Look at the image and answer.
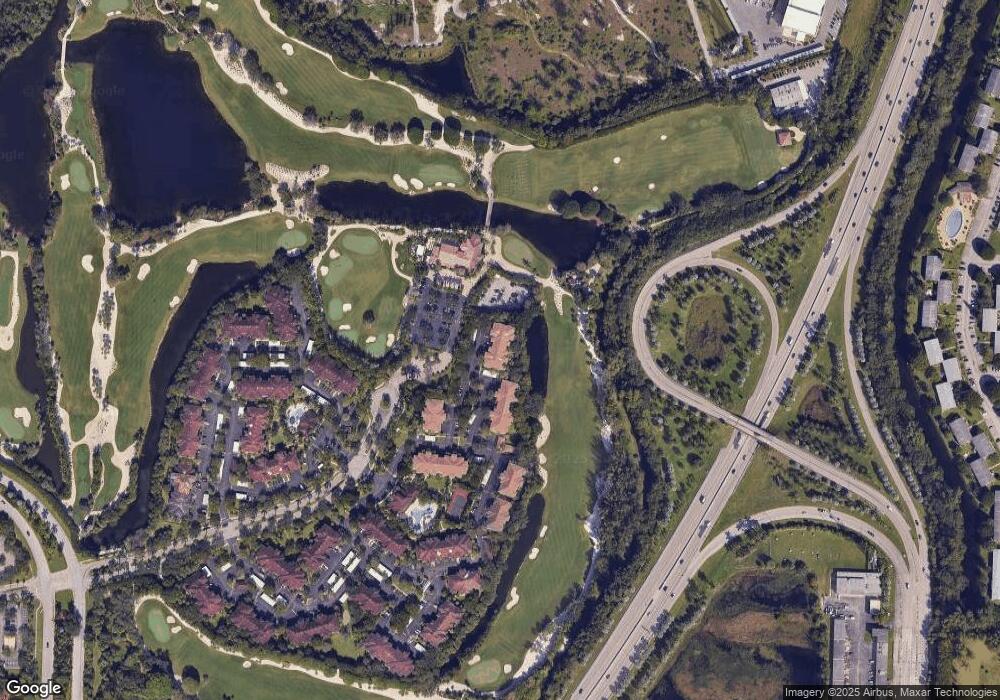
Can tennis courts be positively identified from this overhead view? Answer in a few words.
Yes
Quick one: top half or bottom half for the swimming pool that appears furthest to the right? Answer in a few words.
top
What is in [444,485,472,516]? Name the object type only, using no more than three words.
tennis court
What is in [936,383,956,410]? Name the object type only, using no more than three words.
house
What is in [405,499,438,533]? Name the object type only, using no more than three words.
swimming pool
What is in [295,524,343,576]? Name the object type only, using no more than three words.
building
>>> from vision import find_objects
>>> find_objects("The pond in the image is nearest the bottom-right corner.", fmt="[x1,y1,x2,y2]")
[779,647,823,699]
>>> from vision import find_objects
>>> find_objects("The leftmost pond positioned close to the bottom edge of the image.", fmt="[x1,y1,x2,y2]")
[440,493,545,675]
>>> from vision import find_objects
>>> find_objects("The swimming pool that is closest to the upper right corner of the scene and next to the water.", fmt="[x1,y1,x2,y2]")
[938,194,979,248]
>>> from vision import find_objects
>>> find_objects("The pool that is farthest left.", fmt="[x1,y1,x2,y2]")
[284,402,309,432]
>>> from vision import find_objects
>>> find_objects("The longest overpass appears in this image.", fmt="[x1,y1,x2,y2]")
[678,388,857,485]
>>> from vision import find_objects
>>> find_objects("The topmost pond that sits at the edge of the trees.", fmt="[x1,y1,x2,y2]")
[373,43,479,100]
